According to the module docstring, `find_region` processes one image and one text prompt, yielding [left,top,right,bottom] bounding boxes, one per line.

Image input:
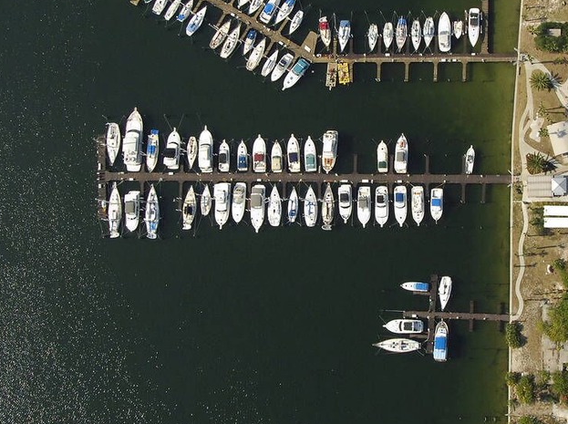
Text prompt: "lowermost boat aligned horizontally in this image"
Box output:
[373,339,421,353]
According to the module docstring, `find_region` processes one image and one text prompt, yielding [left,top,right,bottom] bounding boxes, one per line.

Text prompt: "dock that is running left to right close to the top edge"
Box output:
[130,0,518,82]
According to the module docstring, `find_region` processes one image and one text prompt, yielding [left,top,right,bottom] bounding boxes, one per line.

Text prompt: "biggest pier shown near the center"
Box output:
[96,136,512,219]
